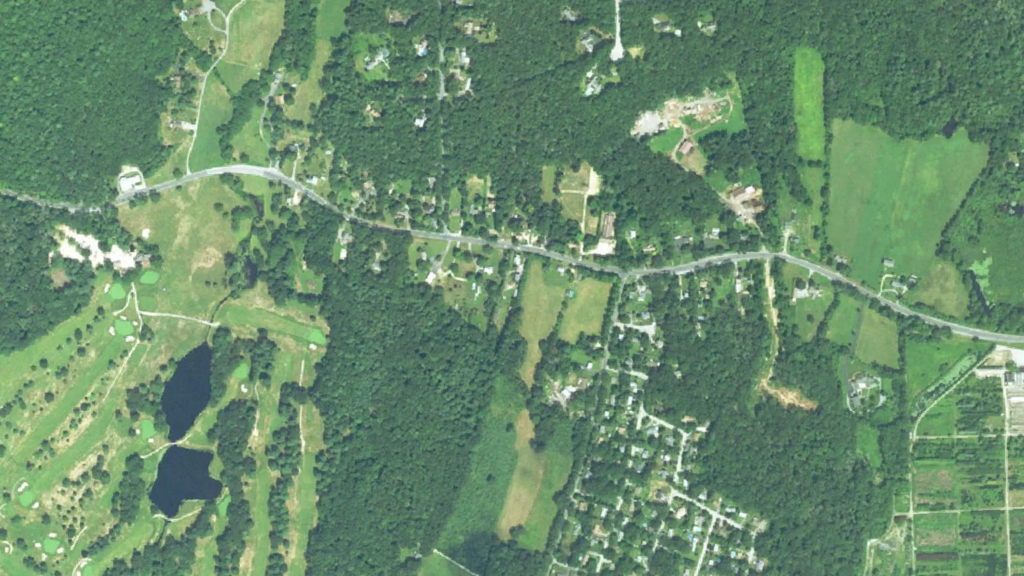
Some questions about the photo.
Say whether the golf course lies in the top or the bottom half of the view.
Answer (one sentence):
The bottom half of the photo is where the golf course is.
